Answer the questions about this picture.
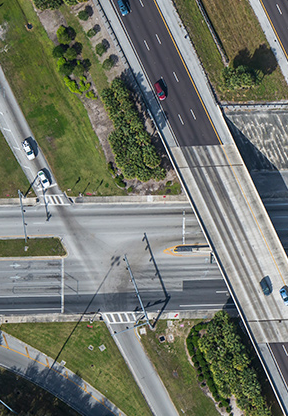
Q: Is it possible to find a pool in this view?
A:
No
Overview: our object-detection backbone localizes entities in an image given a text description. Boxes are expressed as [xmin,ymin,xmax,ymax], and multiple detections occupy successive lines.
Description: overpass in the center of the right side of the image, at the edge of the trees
[140,101,288,378]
